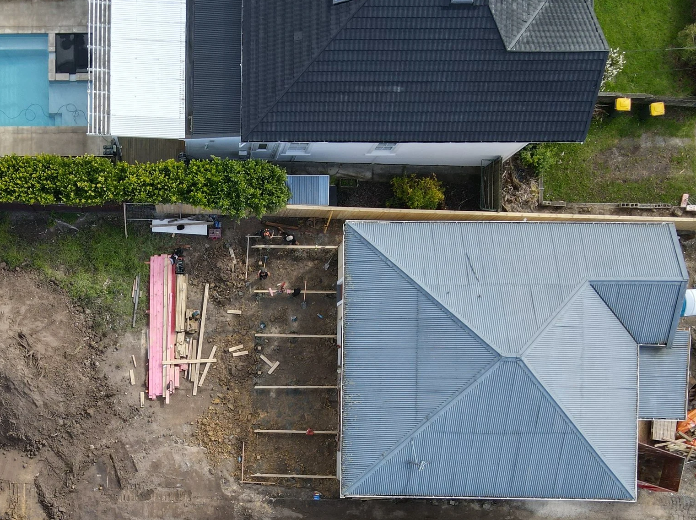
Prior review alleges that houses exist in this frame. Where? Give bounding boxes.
[334,218,693,505]
[185,0,612,168]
